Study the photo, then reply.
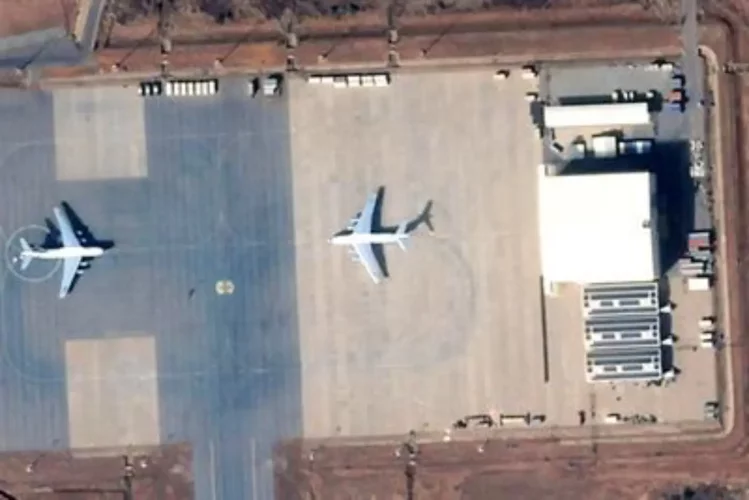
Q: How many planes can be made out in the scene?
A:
2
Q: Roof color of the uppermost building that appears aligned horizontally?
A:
white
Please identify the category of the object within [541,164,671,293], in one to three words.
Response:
hangar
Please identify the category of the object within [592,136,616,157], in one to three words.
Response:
building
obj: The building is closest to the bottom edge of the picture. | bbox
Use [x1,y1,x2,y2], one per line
[587,347,662,383]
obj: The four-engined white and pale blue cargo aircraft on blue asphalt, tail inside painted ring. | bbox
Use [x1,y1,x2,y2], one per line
[19,207,105,298]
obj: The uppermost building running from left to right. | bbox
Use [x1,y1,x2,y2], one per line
[545,103,650,127]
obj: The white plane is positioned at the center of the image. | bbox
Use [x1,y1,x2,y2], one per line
[330,192,411,284]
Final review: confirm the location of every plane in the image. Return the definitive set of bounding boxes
[330,192,411,284]
[19,207,105,298]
